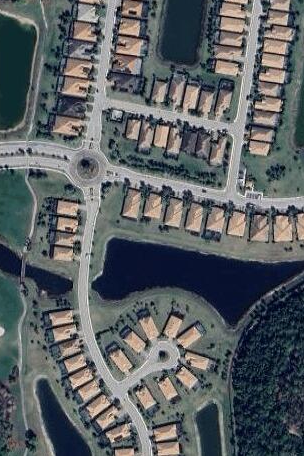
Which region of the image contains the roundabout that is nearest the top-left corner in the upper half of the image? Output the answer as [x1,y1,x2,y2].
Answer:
[67,147,108,187]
